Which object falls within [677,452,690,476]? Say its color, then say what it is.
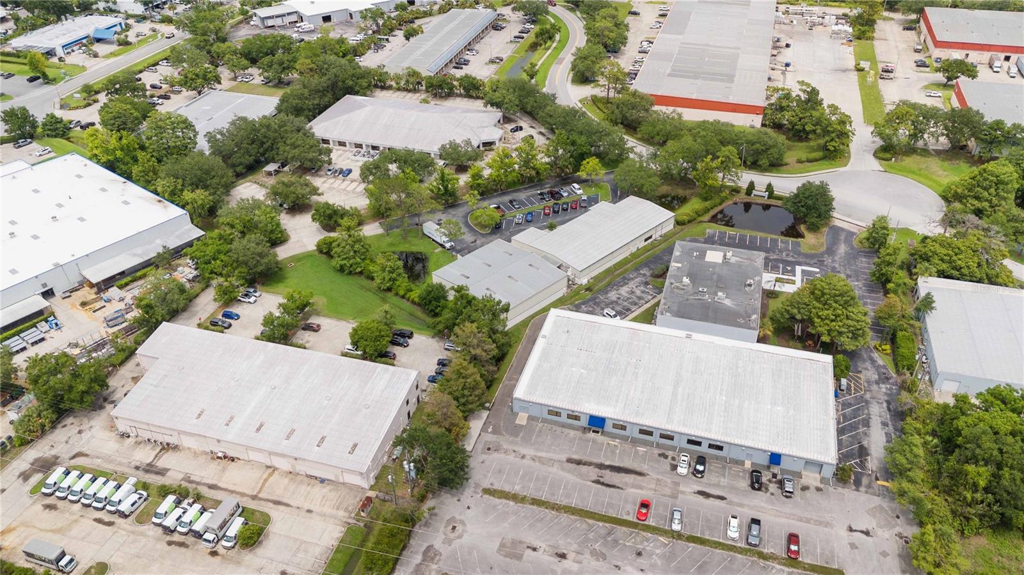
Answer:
white vehicle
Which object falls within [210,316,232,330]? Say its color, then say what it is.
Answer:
gray car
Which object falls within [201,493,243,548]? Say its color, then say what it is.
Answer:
white truck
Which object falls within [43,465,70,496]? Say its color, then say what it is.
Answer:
white vehicle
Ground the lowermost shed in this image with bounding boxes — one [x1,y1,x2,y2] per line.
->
[351,492,374,521]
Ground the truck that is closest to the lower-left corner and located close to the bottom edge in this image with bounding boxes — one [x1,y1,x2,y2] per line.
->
[23,536,73,571]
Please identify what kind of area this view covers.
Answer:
industrial area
